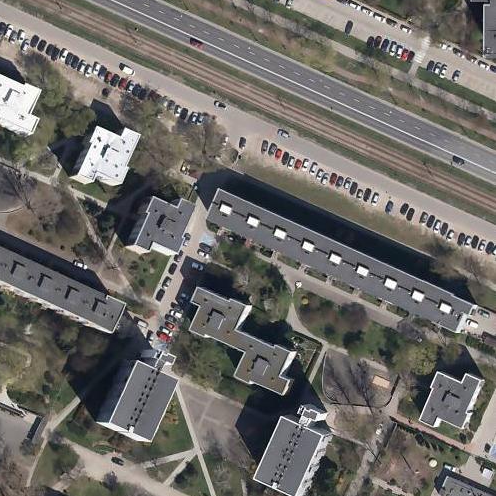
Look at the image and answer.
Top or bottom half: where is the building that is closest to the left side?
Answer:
top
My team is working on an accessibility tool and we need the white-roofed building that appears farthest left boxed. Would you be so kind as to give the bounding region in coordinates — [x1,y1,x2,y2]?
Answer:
[0,75,42,137]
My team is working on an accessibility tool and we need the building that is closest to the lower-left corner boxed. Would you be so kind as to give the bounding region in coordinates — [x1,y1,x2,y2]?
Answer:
[103,361,178,441]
